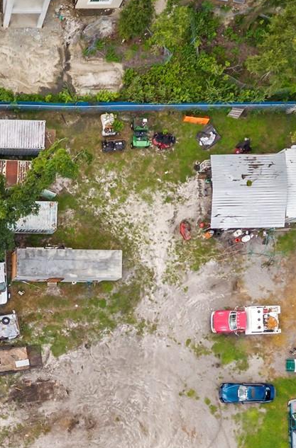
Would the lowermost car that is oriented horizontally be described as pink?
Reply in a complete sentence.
No, the lowermost car that is oriented horizontally is blue.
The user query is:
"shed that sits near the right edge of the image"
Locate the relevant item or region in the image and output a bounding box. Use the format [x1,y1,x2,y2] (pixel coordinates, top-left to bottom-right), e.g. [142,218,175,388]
[201,146,296,232]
